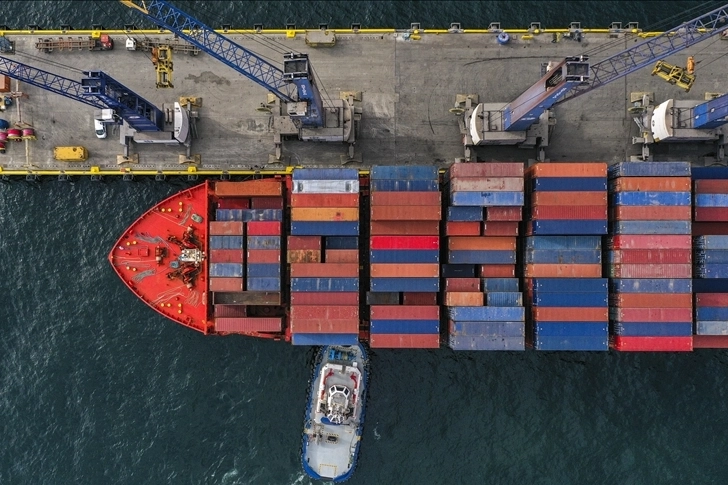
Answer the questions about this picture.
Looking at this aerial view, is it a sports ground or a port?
port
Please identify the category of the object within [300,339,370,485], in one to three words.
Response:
boat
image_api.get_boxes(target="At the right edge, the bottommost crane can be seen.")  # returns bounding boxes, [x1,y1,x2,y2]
[631,92,728,164]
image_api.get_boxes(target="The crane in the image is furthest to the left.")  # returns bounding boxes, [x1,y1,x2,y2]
[0,48,205,161]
